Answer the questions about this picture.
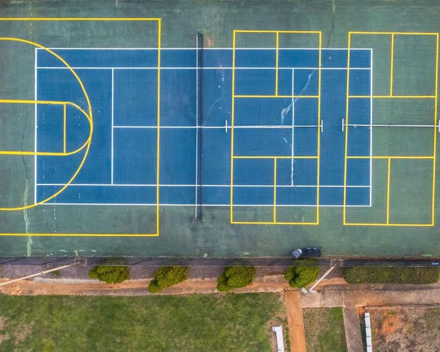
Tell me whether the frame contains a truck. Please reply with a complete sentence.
No, no truck can be seen from above.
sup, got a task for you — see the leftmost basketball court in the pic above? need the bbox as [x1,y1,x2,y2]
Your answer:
[0,18,160,237]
